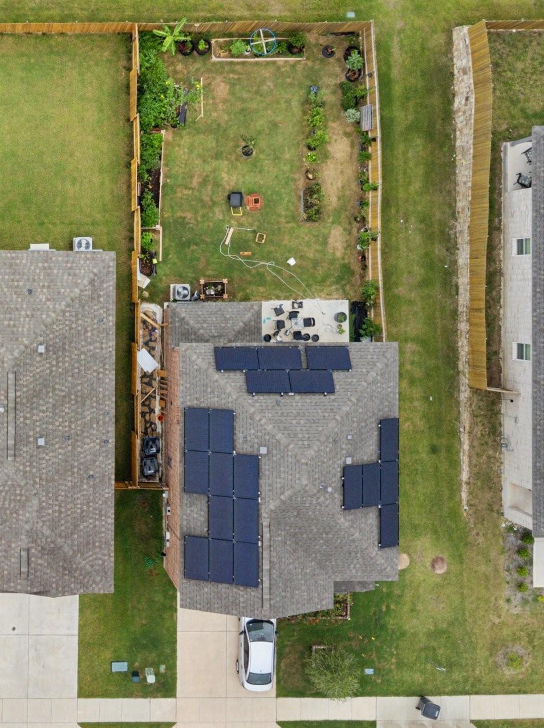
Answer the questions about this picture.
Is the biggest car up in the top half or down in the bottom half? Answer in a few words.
bottom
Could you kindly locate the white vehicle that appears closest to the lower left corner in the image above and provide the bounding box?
[237,616,282,689]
